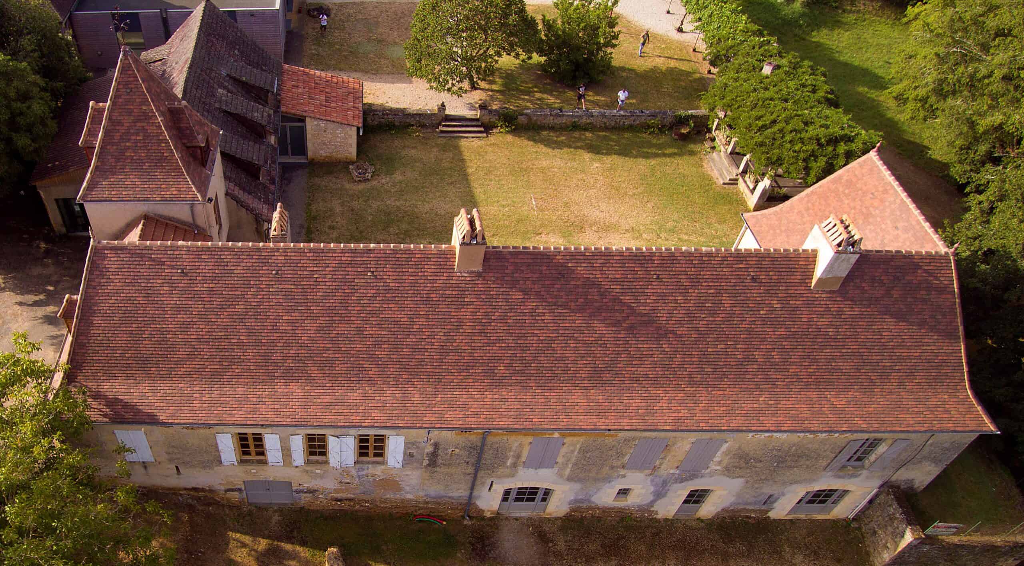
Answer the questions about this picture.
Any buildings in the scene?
Yes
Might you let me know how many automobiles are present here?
none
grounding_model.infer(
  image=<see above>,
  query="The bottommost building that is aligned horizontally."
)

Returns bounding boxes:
[30,139,1004,523]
